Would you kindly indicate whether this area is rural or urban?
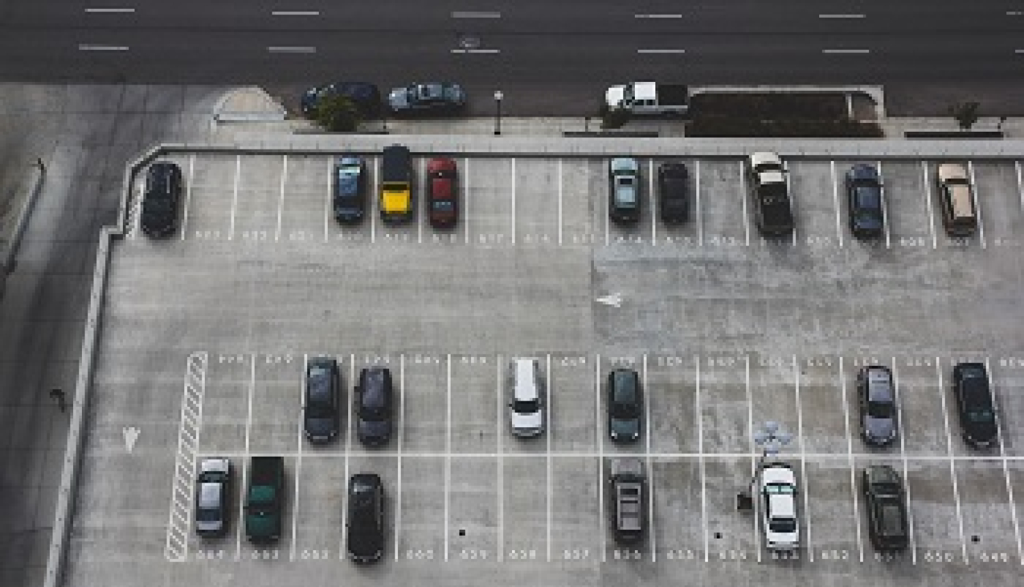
urban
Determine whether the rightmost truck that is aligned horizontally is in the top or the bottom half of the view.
top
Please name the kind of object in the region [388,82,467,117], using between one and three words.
car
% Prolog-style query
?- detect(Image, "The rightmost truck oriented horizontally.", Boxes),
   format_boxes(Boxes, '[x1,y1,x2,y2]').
[605,79,690,117]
